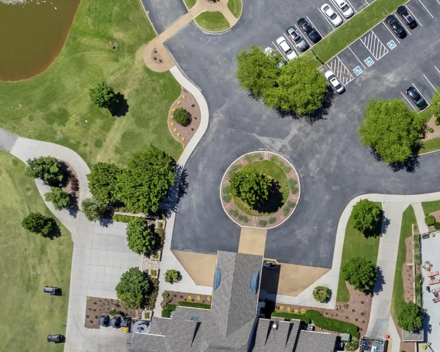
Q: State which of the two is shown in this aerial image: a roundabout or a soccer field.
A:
roundabout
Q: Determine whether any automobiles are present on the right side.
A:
Yes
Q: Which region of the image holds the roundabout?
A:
center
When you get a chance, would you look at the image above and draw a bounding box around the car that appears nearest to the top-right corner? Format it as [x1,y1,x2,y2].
[397,5,418,31]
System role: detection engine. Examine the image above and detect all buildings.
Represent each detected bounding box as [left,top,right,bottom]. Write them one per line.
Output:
[129,251,350,352]
[402,323,424,341]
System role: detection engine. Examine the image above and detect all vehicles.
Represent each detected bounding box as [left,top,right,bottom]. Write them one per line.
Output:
[45,287,61,294]
[397,5,418,31]
[276,36,298,61]
[320,2,342,28]
[263,45,284,71]
[299,17,320,43]
[121,316,131,328]
[110,315,122,327]
[406,85,427,110]
[49,333,65,342]
[286,27,308,52]
[326,70,346,95]
[99,314,111,326]
[385,14,407,39]
[333,0,353,19]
